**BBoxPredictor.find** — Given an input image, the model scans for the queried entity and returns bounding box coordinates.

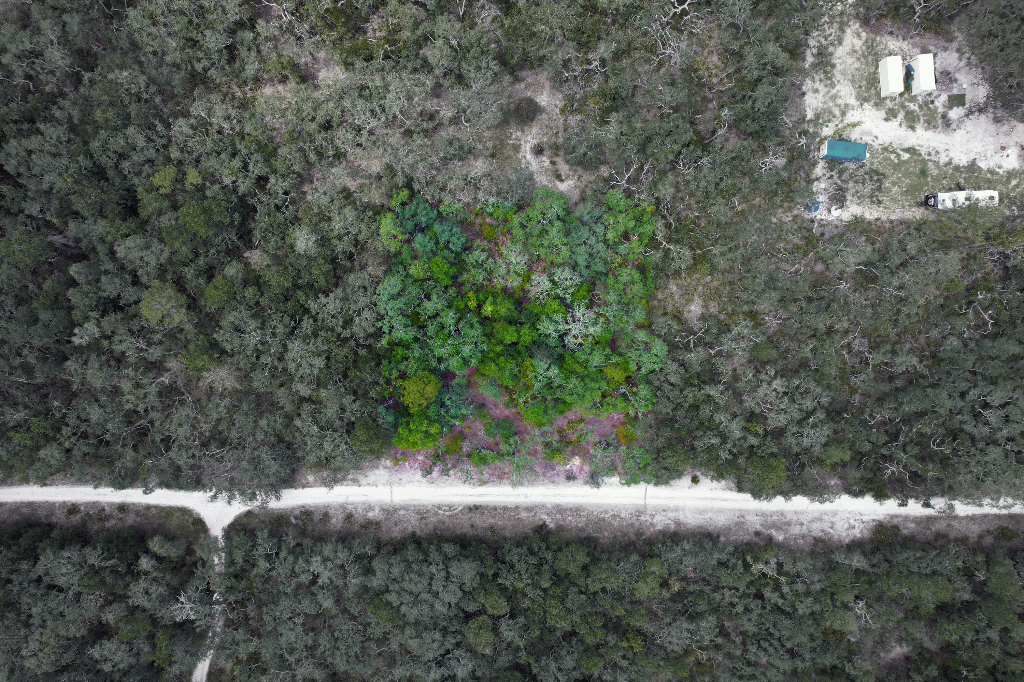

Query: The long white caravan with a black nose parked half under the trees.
[910,190,998,211]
